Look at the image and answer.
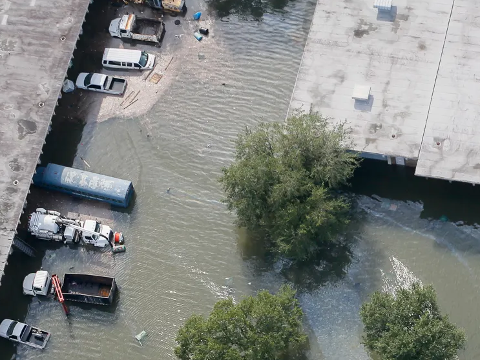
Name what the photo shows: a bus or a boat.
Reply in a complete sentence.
There is a bus in the scene.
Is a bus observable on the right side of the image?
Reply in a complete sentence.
No, no bus is visible on the right side of the image.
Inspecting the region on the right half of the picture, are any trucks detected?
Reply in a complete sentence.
No, no truck appears on the right half of the picture.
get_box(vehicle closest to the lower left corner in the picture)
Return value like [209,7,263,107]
[0,319,54,351]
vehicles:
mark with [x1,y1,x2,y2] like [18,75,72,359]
[115,0,187,21]
[33,166,137,210]
[101,48,158,72]
[20,269,119,312]
[106,14,166,45]
[0,319,54,351]
[74,70,132,97]
[27,206,115,254]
